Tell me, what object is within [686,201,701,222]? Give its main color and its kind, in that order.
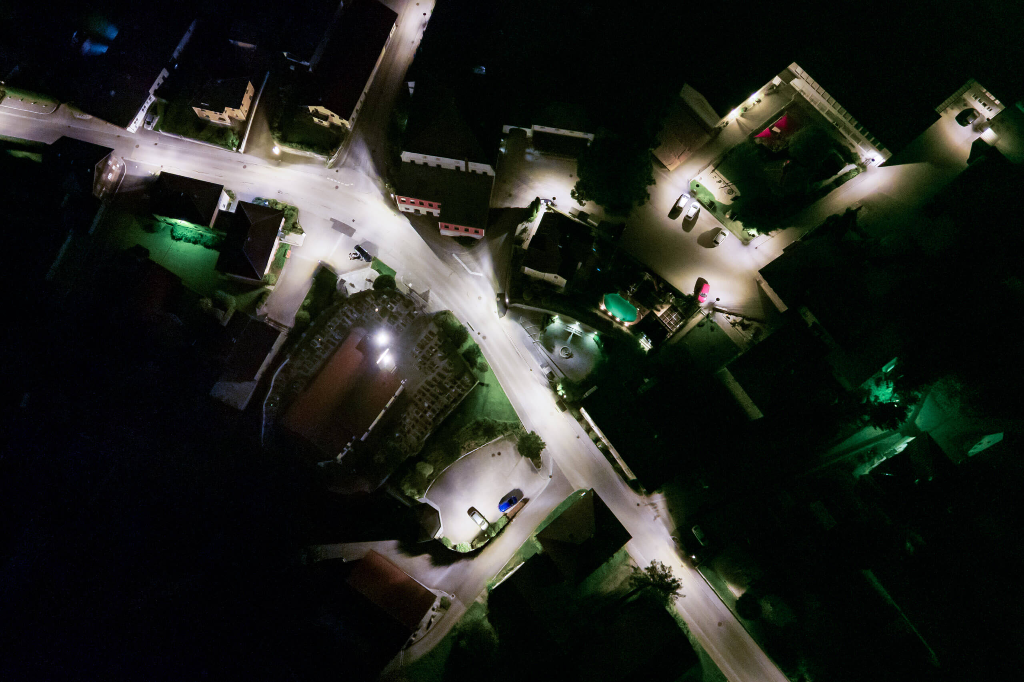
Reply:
white vehicle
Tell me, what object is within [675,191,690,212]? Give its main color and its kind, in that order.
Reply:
white vehicle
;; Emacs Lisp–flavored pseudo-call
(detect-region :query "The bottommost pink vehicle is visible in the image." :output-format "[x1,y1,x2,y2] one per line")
[697,282,711,304]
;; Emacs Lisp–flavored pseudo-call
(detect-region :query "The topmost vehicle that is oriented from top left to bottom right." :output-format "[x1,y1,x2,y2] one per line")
[354,243,373,263]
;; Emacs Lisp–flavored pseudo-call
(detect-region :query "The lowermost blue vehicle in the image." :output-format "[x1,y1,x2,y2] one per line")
[496,494,519,514]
